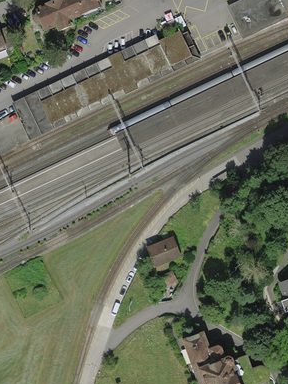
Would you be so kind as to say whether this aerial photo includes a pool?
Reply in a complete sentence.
No, there's no pool here.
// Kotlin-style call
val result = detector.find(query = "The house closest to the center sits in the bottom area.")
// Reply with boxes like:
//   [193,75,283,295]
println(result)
[147,237,182,268]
